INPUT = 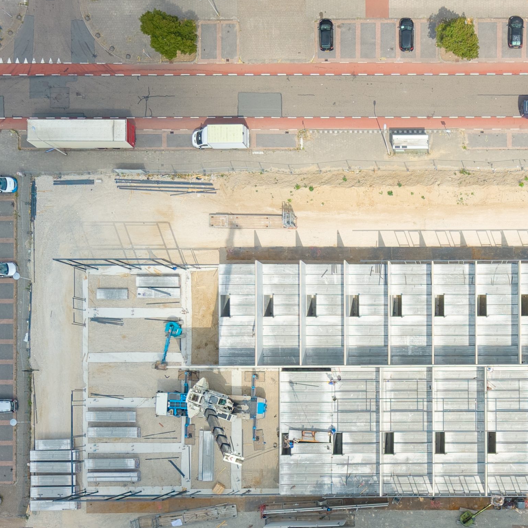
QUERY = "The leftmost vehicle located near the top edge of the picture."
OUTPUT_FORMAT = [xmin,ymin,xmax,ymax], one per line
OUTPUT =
[317,17,335,52]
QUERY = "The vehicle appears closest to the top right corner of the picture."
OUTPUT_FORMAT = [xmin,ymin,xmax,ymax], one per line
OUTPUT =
[507,15,525,50]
